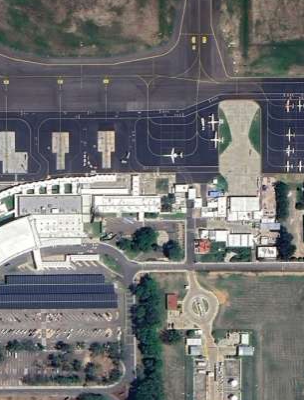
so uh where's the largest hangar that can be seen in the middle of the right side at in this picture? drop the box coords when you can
[231,198,261,212]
